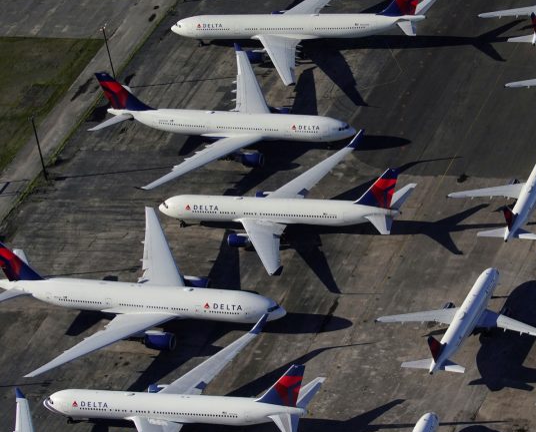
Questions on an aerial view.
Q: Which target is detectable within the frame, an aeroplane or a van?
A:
aeroplane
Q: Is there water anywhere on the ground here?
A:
No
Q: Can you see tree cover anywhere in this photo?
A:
No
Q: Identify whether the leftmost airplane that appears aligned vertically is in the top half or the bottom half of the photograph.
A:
bottom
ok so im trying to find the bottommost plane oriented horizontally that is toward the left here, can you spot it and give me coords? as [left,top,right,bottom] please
[43,313,326,432]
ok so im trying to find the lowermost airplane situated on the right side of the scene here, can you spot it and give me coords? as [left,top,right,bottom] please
[408,414,434,432]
